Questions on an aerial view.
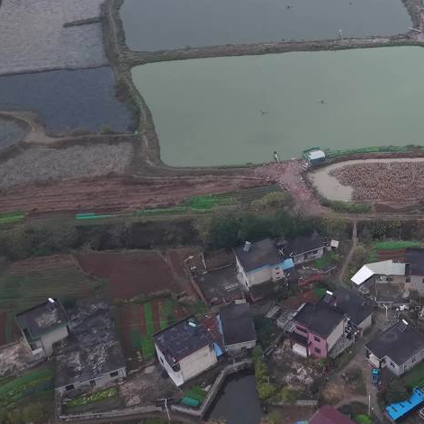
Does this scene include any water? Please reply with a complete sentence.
Yes, there's water in this view.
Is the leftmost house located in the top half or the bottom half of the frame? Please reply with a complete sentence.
The leftmost house is in the bottom half of the image.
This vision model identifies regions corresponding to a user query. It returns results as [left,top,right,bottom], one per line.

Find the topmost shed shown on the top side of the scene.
[305,150,326,170]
